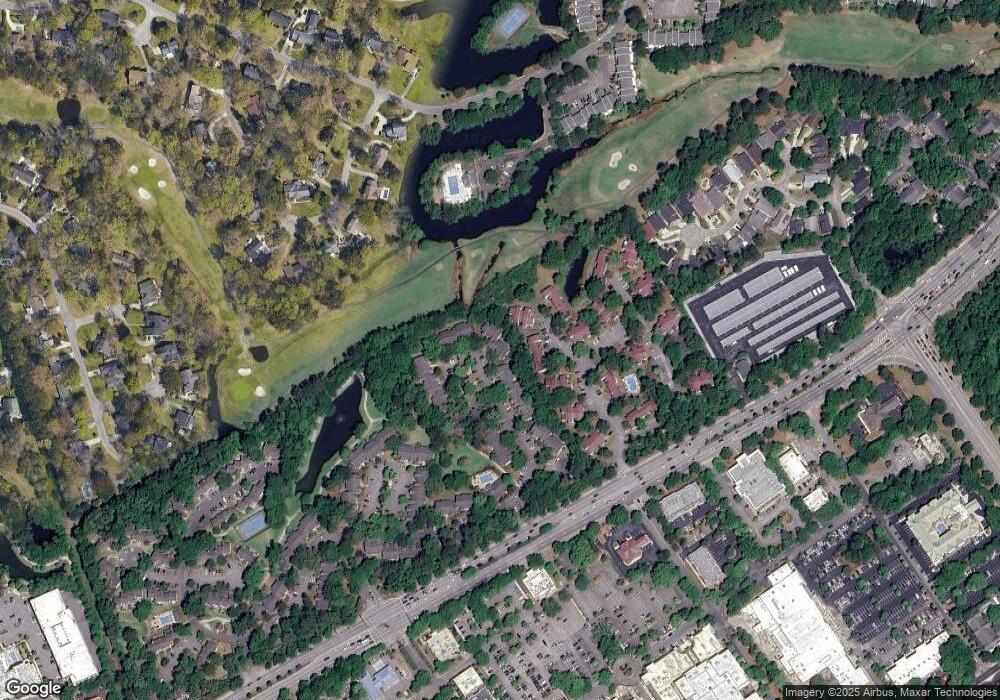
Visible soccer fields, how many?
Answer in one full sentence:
The photo contains no soccer fields.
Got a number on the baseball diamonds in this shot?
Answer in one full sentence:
The photo contains no baseball diamonds.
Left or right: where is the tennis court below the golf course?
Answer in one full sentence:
The tennis court below the golf course sits on the left side.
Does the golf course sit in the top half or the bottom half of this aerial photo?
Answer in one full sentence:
The golf course is in the top half of the image.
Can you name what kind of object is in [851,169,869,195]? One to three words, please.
house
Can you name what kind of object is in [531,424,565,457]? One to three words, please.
building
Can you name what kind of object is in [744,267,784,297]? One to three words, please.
shed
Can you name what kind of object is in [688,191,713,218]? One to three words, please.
house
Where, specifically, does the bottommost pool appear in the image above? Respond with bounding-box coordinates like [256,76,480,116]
[149,611,176,629]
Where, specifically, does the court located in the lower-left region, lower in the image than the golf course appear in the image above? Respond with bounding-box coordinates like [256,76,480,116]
[234,512,270,541]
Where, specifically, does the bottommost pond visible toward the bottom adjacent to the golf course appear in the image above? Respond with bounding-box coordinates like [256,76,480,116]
[295,374,363,496]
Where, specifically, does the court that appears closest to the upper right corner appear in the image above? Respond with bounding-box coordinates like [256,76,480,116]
[496,5,530,40]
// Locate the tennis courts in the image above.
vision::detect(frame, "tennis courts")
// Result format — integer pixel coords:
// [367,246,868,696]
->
[496,5,530,40]
[234,512,270,541]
